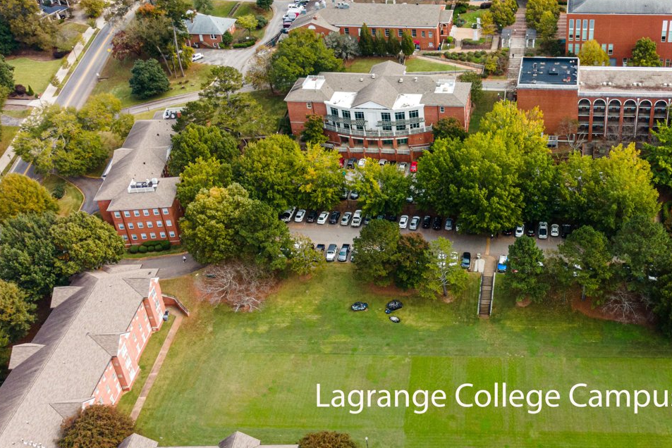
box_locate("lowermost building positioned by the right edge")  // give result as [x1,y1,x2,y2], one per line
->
[517,64,672,139]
